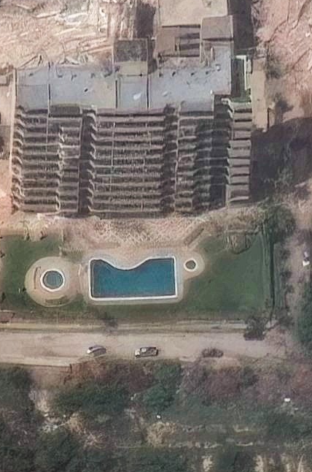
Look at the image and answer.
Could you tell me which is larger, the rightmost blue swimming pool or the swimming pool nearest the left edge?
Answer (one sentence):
The rightmost blue swimming pool is larger than the swimming pool nearest the left edge.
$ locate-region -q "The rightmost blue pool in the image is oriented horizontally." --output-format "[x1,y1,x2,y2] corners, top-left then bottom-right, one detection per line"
[87,256,178,300]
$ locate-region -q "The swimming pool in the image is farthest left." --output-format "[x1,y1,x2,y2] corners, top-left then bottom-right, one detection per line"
[39,265,67,292]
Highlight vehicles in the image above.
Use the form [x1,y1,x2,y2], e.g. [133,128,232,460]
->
[245,329,266,339]
[136,345,158,357]
[86,344,107,355]
[201,347,222,358]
